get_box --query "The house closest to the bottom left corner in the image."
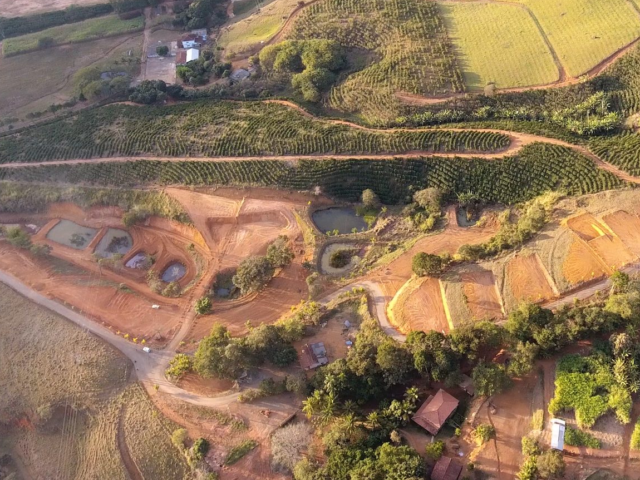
[297,340,329,369]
